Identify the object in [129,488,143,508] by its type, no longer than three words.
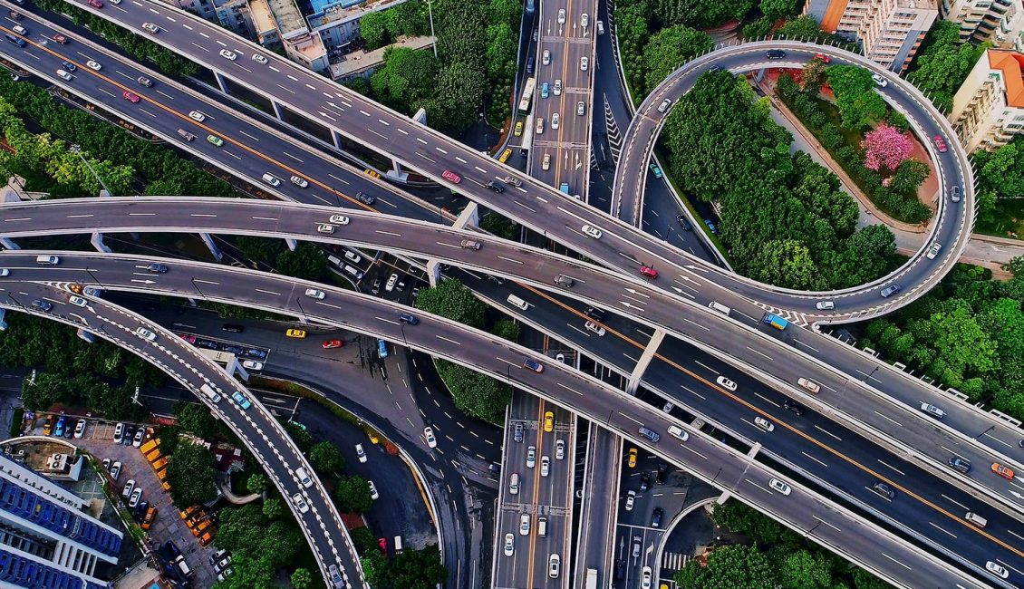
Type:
car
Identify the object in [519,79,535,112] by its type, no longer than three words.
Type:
vehicle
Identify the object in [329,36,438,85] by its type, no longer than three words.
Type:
building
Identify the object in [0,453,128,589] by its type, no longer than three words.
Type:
building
